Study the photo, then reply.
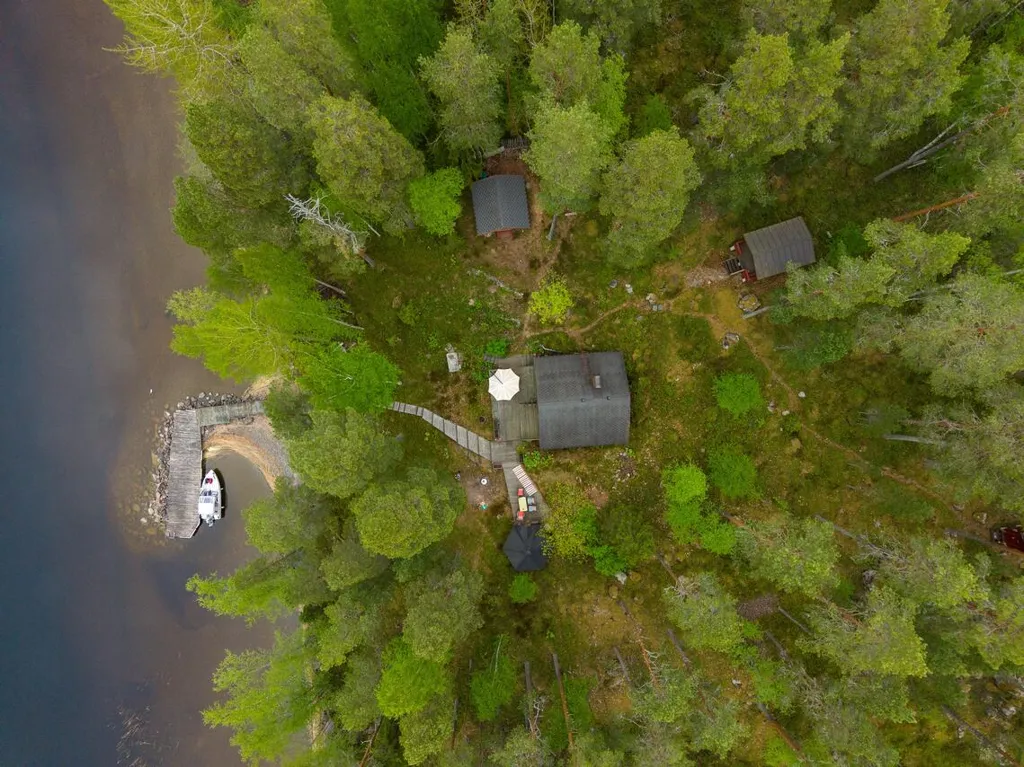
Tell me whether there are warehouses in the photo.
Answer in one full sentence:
No, there's no warehouse here.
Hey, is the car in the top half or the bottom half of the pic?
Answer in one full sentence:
The car sits in the bottom half of the picture.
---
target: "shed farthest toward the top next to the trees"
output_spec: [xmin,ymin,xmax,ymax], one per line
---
[473,175,530,242]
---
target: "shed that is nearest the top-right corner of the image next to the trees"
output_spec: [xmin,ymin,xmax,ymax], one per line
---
[719,216,816,283]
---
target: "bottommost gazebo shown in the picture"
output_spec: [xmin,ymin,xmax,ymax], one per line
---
[504,523,548,571]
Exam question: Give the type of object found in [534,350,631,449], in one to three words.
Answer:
building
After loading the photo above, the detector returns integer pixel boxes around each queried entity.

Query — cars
[995,527,1024,552]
